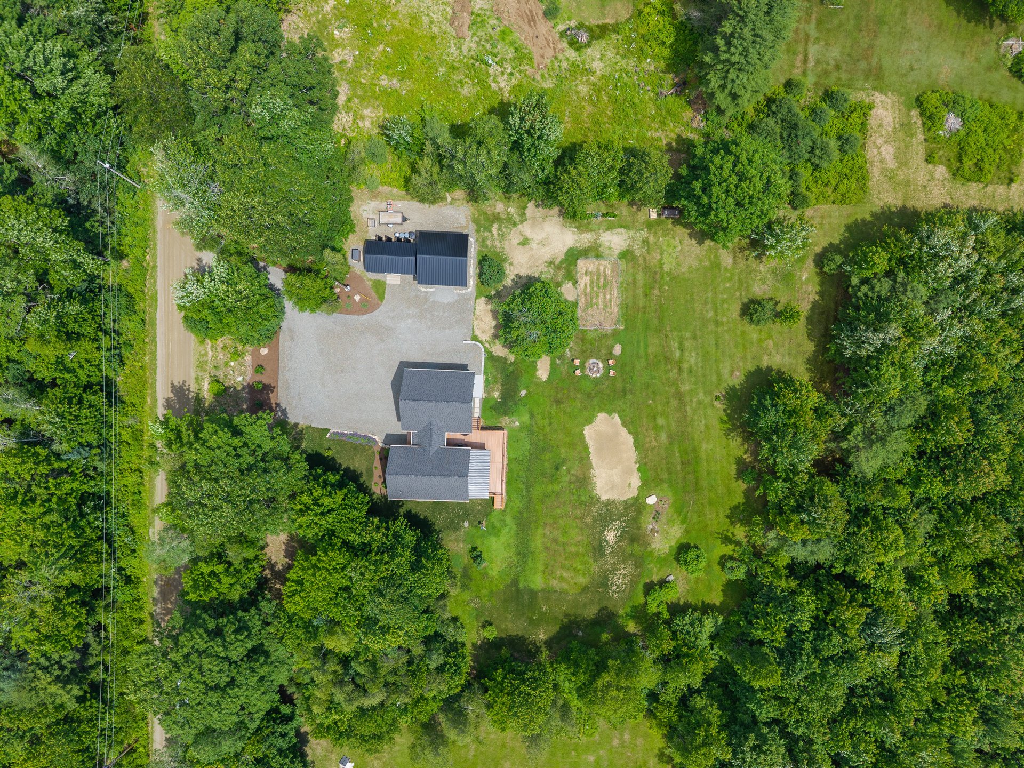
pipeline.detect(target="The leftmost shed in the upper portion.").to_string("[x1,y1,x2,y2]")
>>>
[364,241,417,275]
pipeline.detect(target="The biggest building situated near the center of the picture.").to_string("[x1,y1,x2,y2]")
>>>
[386,367,491,503]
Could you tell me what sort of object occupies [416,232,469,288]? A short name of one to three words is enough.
shed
